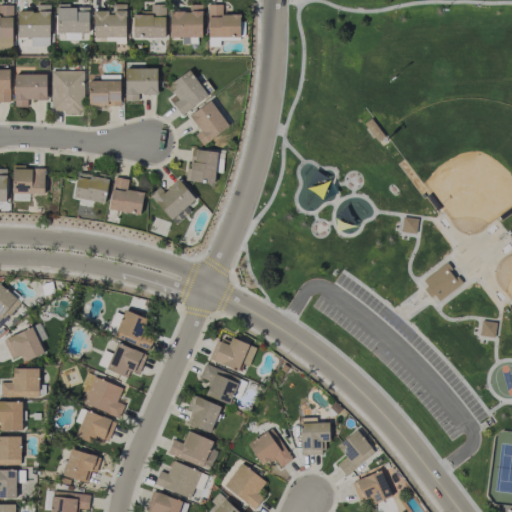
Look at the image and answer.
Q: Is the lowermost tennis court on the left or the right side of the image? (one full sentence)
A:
You can find the lowermost tennis court on the right side of the picture.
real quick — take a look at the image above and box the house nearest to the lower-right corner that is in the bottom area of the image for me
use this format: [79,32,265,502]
[354,462,399,503]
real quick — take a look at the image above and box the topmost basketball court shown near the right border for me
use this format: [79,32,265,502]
[488,356,512,406]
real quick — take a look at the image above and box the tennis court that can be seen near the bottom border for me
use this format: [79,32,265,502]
[488,430,512,506]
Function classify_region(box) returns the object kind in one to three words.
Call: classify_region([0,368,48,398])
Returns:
house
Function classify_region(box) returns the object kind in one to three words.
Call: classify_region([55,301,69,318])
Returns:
swimming pool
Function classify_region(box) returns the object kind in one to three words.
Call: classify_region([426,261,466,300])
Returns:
building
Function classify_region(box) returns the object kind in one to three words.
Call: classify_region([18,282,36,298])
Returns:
swimming pool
